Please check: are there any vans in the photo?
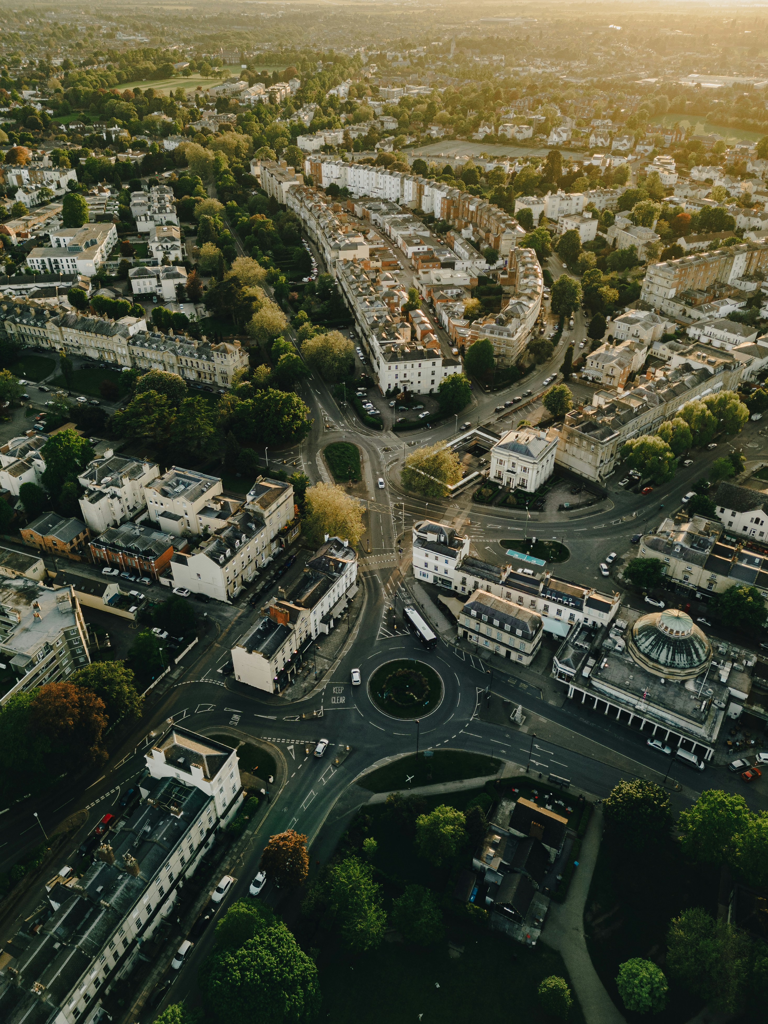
Yes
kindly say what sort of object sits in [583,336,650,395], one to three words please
house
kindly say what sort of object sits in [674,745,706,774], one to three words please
van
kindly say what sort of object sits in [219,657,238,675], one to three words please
car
